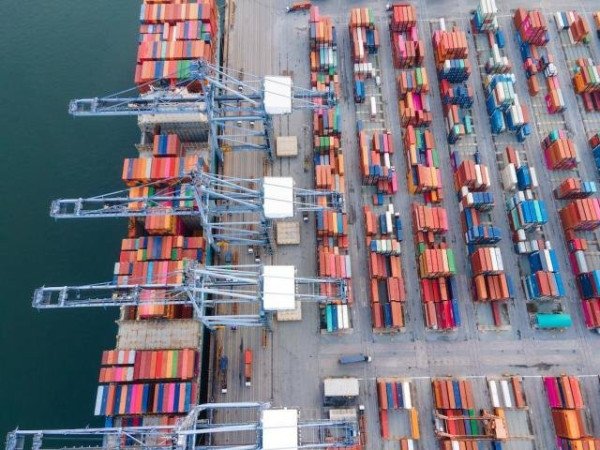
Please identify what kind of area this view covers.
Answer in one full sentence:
The picture captures a port.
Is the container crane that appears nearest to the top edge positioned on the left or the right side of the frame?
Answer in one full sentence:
It is on the left.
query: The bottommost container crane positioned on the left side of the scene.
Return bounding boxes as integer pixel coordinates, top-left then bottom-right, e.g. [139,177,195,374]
[10,388,360,450]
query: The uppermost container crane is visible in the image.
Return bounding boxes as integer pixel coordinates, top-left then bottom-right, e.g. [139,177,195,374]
[69,57,339,172]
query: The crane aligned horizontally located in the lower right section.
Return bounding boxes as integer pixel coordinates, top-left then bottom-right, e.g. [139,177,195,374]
[430,411,512,445]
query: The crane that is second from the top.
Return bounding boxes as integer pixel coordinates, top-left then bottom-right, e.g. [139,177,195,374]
[51,167,345,260]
